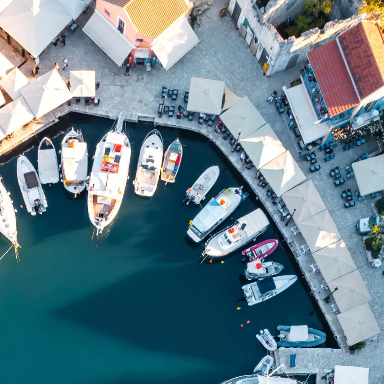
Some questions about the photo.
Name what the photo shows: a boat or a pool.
boat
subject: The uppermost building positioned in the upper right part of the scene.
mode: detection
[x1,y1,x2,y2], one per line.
[224,0,364,72]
